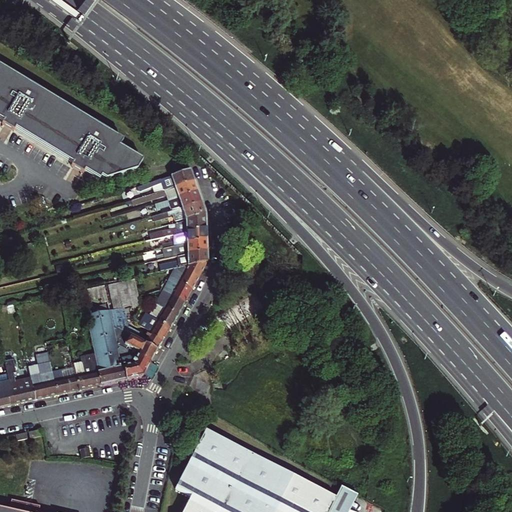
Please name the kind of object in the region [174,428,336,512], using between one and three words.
building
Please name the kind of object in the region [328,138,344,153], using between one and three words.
vehicle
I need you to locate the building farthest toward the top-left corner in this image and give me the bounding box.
[0,62,144,179]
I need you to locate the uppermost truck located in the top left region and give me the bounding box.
[52,0,86,24]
